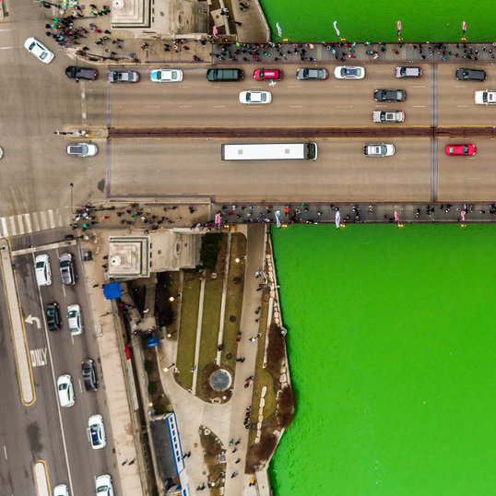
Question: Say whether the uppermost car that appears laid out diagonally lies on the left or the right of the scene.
left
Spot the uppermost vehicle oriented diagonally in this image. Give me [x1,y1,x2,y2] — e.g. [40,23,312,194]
[24,36,57,64]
